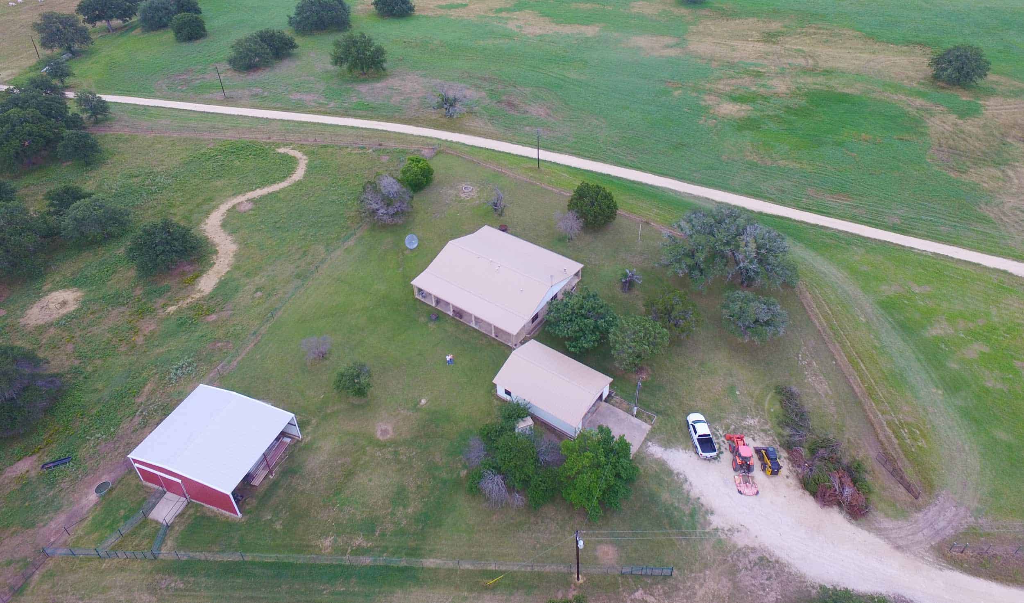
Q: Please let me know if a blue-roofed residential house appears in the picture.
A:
No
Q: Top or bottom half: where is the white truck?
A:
bottom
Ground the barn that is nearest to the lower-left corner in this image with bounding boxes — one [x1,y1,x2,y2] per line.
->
[128,383,301,518]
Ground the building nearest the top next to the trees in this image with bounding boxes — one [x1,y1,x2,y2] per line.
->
[411,225,585,349]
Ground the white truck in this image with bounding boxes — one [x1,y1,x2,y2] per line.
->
[687,416,720,463]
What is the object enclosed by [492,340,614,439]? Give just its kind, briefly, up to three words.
building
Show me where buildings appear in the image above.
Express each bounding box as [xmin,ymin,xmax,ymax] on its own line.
[128,383,301,518]
[411,225,585,349]
[492,340,614,439]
